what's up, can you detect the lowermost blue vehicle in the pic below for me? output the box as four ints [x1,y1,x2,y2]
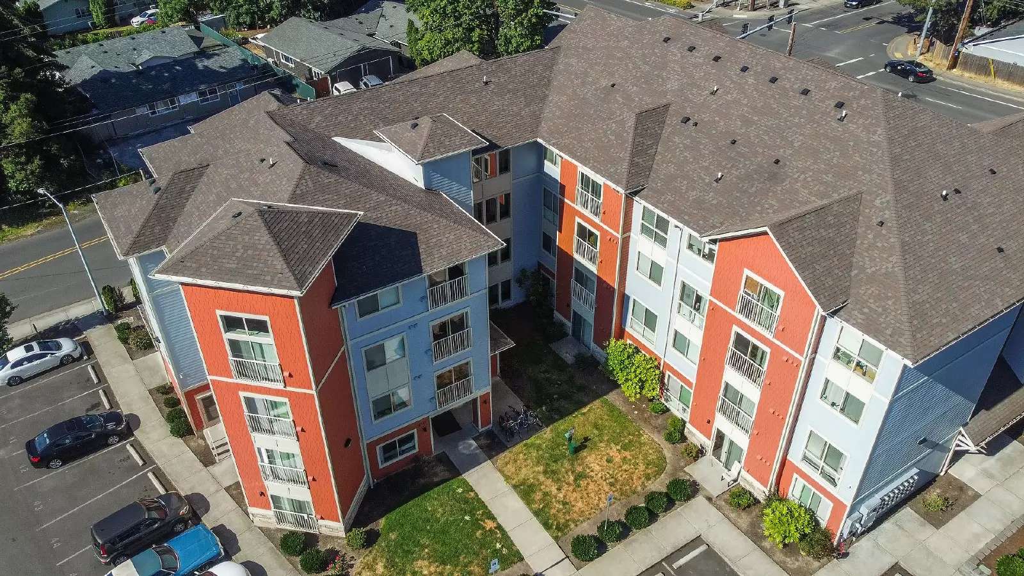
[111,529,225,576]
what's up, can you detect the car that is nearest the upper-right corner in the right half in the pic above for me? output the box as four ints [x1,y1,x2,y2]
[888,61,927,78]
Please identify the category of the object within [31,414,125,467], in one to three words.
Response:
car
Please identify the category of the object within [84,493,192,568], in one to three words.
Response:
car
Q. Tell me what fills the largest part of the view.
buildings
